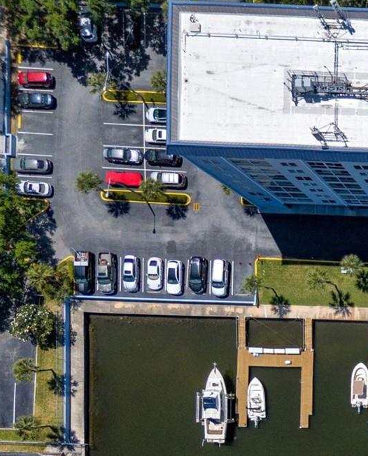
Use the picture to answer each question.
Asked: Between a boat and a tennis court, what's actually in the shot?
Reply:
boat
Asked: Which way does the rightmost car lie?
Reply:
from top to bottom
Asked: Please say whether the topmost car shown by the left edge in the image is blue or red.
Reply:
red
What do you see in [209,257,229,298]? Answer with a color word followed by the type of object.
white car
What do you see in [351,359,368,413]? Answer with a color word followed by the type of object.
white boat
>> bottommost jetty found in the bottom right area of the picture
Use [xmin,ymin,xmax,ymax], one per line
[236,348,314,429]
